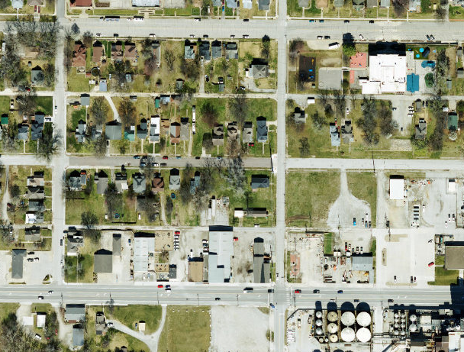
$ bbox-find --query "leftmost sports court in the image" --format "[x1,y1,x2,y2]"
[318,67,342,89]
